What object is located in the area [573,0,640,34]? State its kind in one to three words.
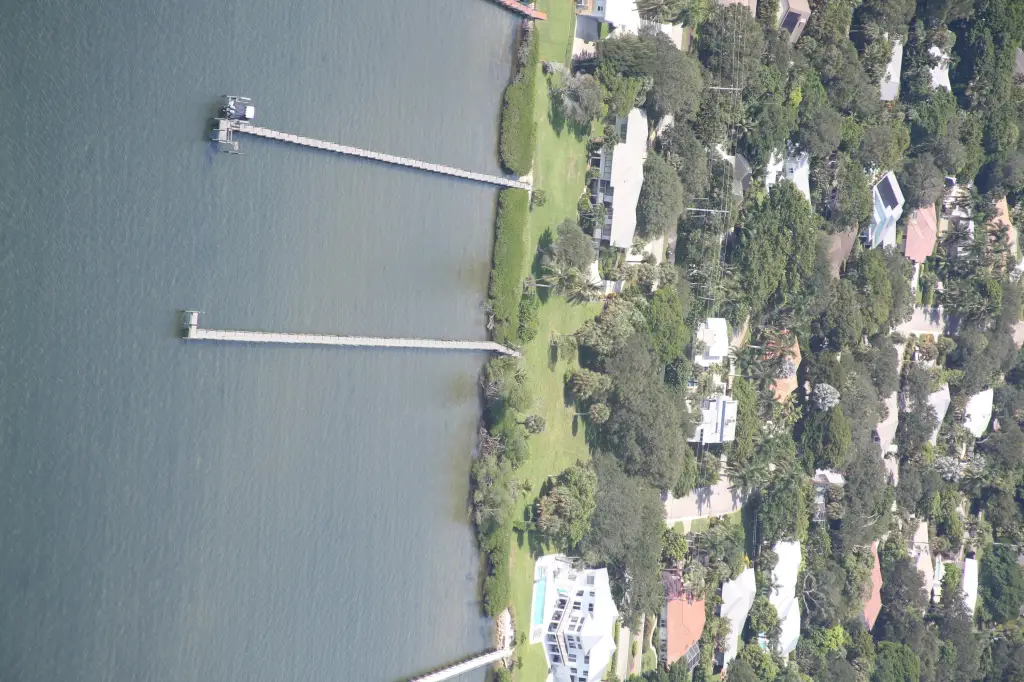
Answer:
house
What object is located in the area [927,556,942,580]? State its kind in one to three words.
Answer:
building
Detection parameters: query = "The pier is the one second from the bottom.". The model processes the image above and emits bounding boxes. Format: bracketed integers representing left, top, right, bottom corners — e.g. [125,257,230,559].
[180,311,521,359]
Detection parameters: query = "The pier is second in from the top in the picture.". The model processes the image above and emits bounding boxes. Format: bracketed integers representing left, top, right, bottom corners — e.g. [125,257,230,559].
[210,118,533,191]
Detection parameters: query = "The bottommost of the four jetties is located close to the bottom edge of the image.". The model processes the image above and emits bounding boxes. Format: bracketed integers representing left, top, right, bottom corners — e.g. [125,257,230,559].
[388,645,512,682]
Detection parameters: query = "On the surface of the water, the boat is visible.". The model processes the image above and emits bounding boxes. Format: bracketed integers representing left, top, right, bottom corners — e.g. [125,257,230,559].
[221,101,255,118]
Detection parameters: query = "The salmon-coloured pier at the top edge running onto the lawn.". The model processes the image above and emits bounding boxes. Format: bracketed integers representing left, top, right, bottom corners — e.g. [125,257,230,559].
[485,0,547,20]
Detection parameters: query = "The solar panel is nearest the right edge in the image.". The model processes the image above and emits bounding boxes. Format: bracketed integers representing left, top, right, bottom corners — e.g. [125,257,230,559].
[877,178,900,208]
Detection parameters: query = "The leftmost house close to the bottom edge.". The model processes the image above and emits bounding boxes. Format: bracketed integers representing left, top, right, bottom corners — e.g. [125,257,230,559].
[531,554,620,682]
